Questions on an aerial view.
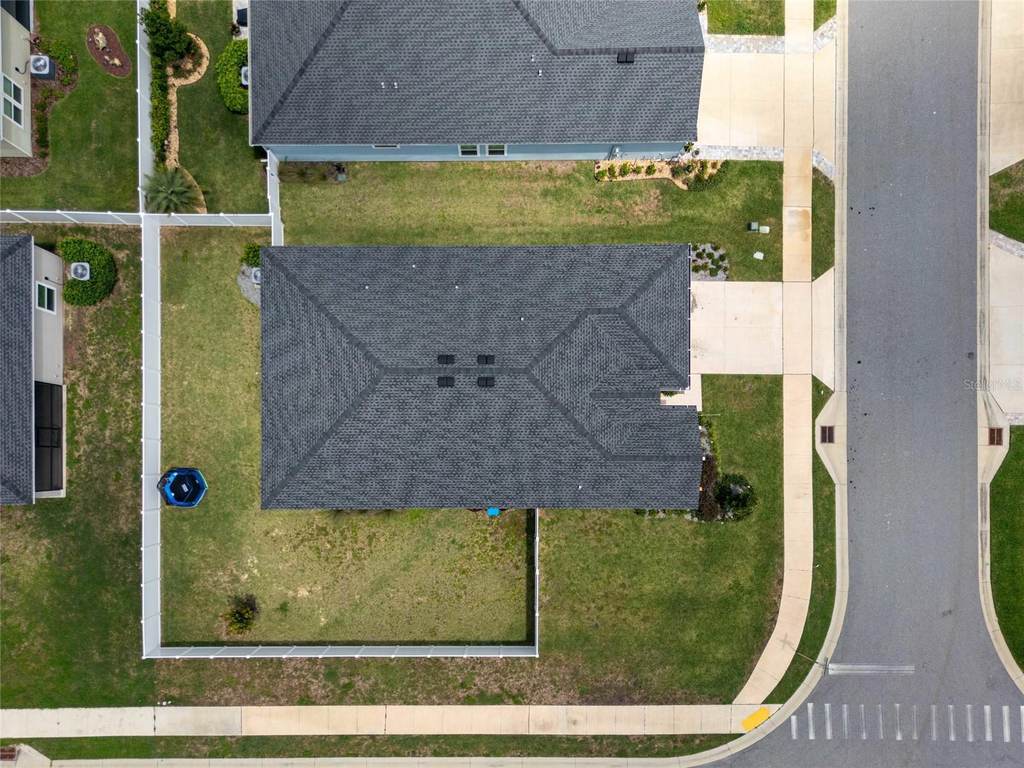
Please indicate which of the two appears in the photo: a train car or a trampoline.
trampoline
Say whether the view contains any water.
No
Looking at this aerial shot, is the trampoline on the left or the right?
left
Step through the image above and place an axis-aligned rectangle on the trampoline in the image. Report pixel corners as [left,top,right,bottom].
[155,470,212,508]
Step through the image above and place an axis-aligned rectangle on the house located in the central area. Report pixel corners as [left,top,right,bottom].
[259,244,706,511]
